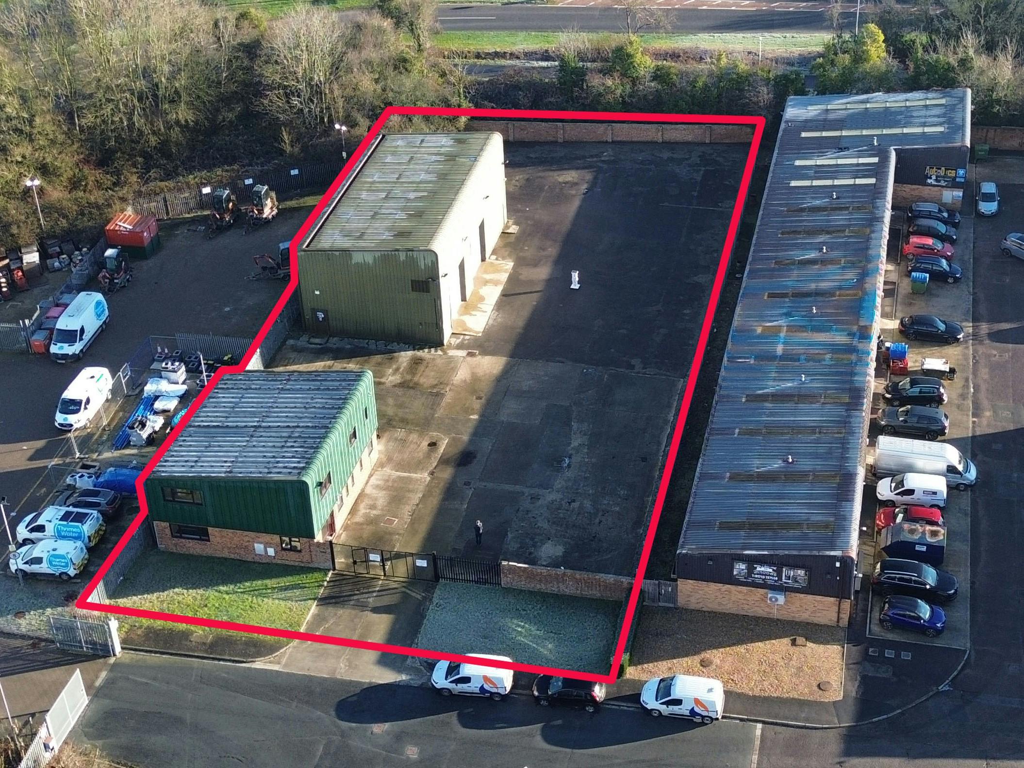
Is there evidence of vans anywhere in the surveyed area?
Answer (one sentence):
Yes, you can see a van in this photo.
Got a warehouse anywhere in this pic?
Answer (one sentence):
Yes, a warehouse can be made out from above.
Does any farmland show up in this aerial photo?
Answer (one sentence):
No, there's no farmland in this view.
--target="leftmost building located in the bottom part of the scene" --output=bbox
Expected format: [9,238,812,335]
[140,371,381,566]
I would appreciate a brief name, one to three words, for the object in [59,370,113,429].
van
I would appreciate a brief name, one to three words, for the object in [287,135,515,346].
warehouse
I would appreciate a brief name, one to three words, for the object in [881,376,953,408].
car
